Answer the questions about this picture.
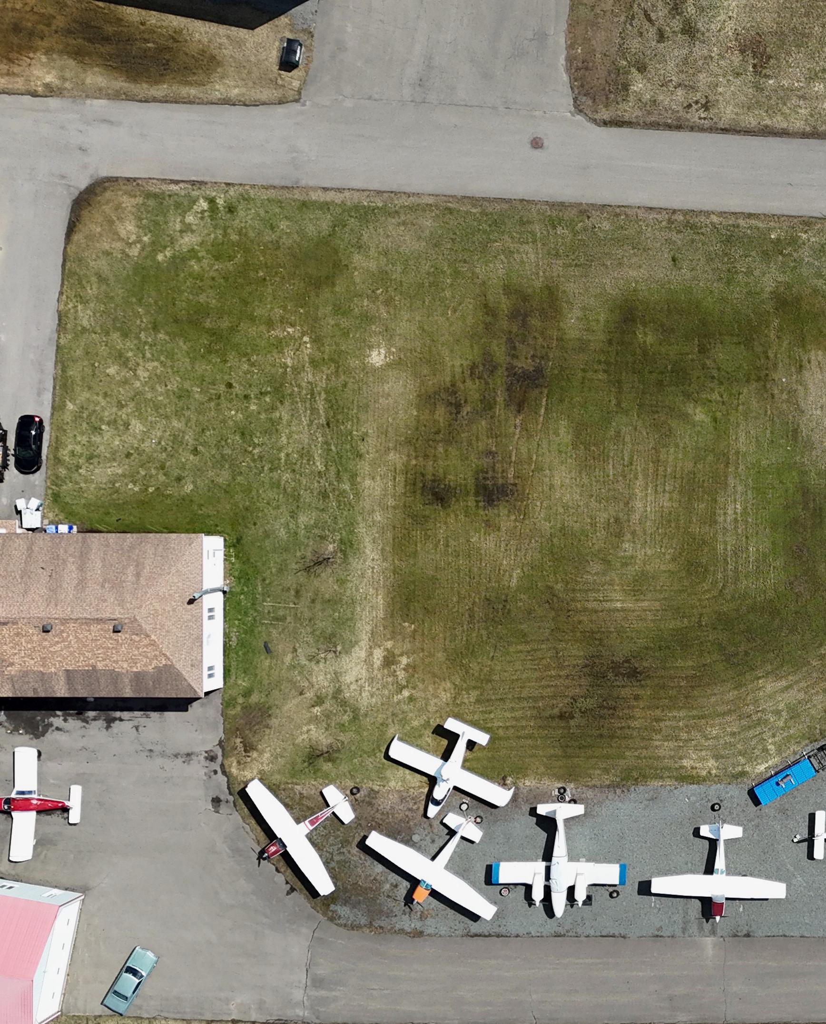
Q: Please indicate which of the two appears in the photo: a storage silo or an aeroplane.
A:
aeroplane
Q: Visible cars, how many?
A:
two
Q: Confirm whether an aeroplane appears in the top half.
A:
No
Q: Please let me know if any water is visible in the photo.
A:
No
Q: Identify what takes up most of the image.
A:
grass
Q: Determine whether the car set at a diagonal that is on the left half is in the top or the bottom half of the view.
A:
bottom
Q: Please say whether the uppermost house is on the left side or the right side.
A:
left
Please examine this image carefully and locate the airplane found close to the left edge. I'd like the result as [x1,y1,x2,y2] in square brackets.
[0,748,78,862]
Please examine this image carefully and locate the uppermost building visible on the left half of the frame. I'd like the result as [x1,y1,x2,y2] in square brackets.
[0,519,231,698]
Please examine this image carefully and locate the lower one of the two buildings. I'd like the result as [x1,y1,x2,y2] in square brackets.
[0,878,87,1024]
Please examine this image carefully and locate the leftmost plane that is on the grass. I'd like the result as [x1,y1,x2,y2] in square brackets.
[245,778,354,898]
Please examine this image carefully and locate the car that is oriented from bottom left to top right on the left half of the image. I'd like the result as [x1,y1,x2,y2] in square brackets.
[102,947,157,1016]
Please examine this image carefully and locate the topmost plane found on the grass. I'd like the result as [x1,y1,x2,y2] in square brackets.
[390,717,516,819]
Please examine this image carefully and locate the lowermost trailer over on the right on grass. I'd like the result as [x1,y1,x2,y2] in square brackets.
[752,742,826,805]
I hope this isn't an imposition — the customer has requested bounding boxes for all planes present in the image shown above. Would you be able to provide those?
[245,778,354,898]
[367,811,496,921]
[390,717,516,819]
[814,810,826,859]
[0,748,78,862]
[492,804,627,918]
[651,824,787,923]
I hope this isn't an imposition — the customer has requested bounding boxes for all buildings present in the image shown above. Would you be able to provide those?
[0,519,231,698]
[0,878,87,1024]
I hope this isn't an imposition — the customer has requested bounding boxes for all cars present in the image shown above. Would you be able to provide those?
[102,947,157,1016]
[12,415,44,472]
